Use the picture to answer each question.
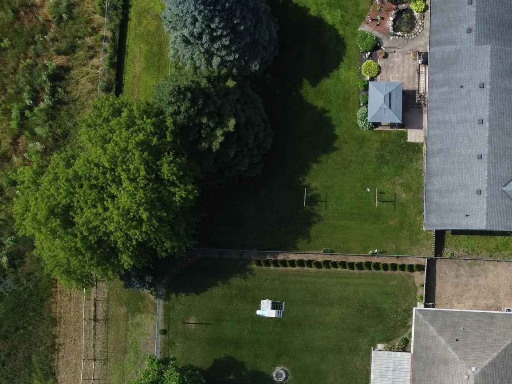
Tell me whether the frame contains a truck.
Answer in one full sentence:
No, there isn't any truck down there.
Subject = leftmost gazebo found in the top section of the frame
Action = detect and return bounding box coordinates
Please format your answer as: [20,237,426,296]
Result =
[368,81,404,129]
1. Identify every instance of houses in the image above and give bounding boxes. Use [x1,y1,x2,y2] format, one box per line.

[423,0,512,236]
[410,307,512,384]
